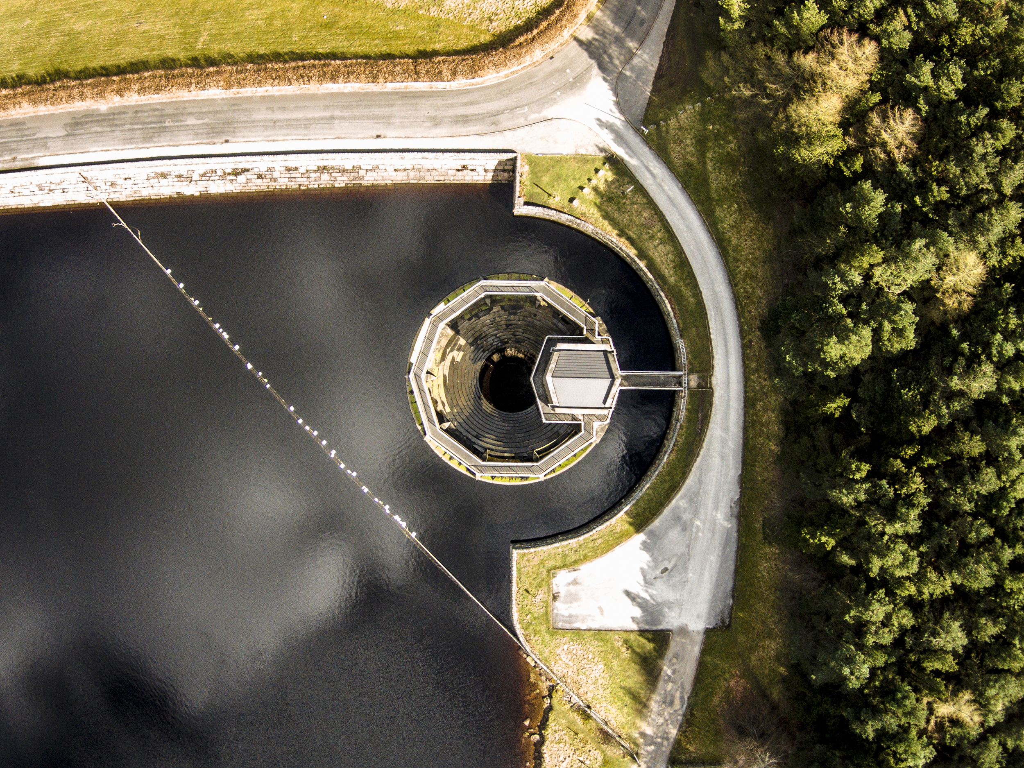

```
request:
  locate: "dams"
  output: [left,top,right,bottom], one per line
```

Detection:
[0,150,518,230]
